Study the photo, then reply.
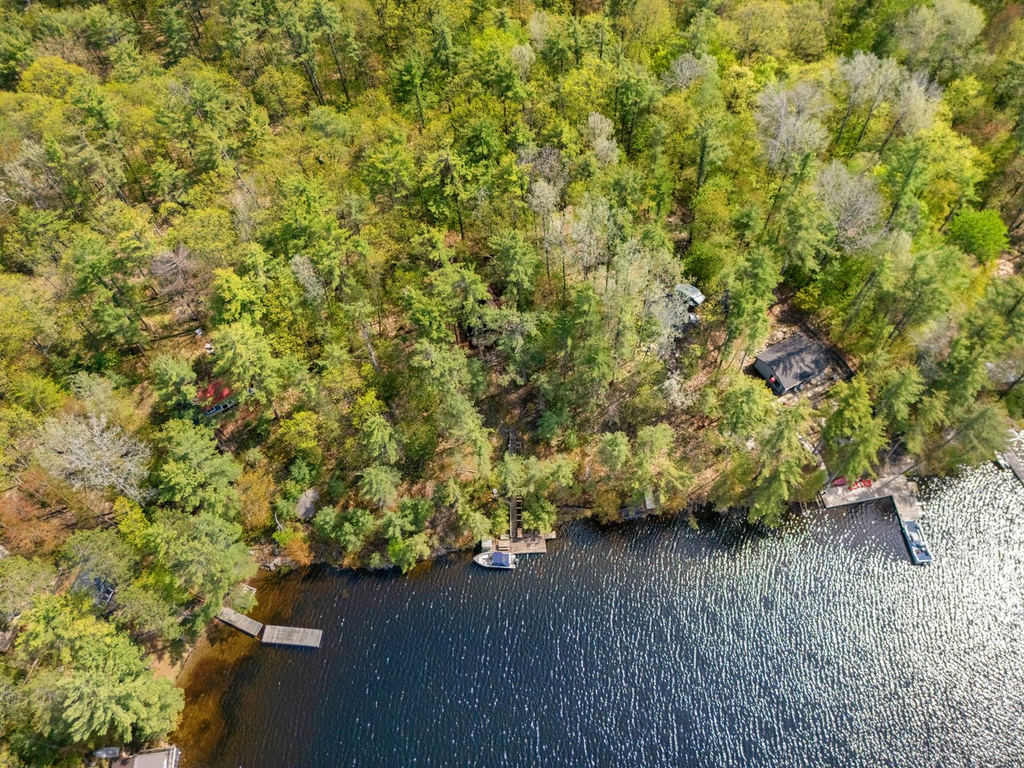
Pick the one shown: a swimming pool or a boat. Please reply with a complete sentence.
The one in the frame is a boat.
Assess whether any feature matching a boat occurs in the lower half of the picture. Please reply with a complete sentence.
Yes, a boat appears in the lower half of the picture.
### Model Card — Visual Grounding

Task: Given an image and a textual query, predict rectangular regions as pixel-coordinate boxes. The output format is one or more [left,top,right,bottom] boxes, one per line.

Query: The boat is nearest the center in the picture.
[473,551,521,571]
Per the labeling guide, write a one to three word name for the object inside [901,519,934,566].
boat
